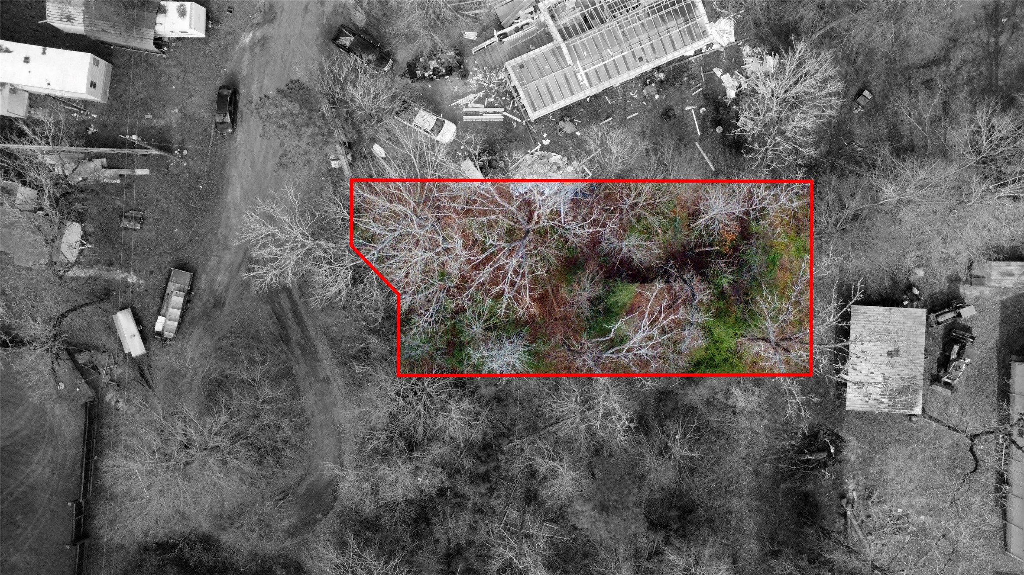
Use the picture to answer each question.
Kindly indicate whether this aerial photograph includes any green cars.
No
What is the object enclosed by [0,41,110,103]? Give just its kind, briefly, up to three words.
house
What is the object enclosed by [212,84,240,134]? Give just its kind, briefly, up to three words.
car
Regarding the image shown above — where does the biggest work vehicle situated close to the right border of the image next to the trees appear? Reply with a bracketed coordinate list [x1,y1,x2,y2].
[923,331,989,402]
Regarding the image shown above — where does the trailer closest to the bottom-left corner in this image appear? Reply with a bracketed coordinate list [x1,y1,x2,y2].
[118,303,152,356]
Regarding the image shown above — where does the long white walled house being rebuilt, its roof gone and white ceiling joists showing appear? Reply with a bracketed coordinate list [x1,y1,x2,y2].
[500,0,716,126]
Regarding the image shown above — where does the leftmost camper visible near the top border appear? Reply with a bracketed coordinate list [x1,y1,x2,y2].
[154,1,208,37]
